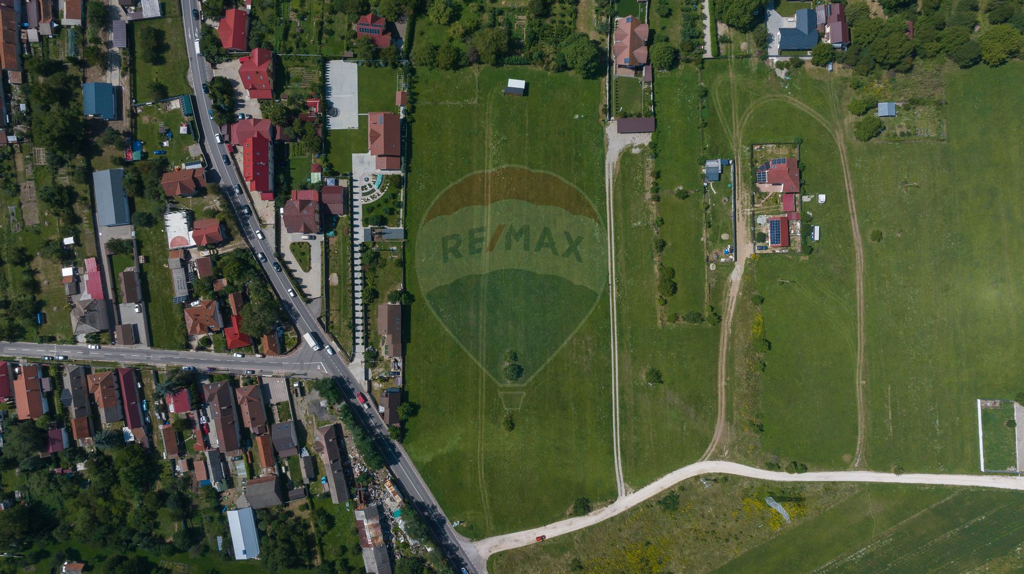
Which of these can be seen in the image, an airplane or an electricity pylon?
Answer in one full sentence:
The one in the frame is an electricity pylon.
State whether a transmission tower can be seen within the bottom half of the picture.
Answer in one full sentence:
Yes, looking within the bottom half of the picture, one can make out a transmission tower.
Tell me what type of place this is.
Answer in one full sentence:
The area seen from above is a residential area.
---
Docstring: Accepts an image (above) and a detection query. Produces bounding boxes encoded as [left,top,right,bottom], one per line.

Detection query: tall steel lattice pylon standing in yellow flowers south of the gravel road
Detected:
[764,496,794,522]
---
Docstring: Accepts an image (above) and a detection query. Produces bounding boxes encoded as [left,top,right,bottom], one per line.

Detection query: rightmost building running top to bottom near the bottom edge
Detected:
[355,504,392,574]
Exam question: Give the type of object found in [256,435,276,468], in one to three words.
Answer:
shed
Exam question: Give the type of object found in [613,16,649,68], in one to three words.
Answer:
house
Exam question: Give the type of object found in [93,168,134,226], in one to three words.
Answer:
building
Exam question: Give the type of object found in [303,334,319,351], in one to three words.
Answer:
vehicle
